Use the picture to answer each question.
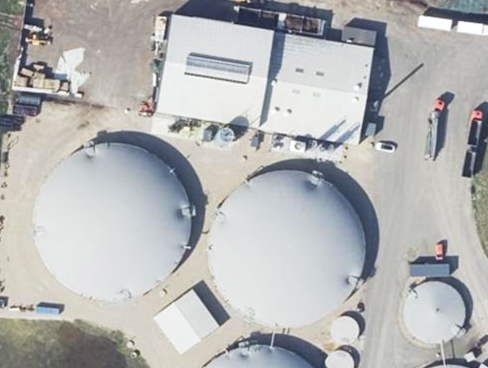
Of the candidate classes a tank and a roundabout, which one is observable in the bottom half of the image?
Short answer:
tank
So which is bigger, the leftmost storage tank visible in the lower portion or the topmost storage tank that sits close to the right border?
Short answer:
the leftmost storage tank visible in the lower portion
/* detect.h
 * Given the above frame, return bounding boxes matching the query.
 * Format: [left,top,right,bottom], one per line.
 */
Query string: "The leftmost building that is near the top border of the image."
[155,14,274,127]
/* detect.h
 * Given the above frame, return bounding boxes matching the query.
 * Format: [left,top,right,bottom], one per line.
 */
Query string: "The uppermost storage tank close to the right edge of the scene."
[403,281,469,344]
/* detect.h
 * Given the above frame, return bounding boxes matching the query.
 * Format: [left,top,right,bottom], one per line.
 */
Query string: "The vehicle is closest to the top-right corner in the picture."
[457,22,488,37]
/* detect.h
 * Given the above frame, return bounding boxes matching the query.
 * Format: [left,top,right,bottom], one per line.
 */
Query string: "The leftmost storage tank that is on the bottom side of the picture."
[32,139,198,306]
